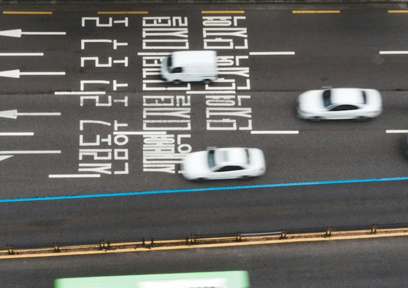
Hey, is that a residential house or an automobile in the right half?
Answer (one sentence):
The feature located in the right half is an automobile.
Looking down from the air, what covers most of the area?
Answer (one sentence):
The bulk of the photo consists of paved ground.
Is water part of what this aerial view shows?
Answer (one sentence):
No, water can't be seen anywhere here.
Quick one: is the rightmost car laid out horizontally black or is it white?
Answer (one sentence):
From above, the rightmost car laid out horizontally appears white.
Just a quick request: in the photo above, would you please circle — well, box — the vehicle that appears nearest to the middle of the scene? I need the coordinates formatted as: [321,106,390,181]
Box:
[182,143,265,181]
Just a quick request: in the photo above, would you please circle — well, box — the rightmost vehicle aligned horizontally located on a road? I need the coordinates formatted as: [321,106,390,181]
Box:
[299,83,382,120]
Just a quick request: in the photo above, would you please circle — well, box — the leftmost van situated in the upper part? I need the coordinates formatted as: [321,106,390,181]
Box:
[160,49,219,84]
